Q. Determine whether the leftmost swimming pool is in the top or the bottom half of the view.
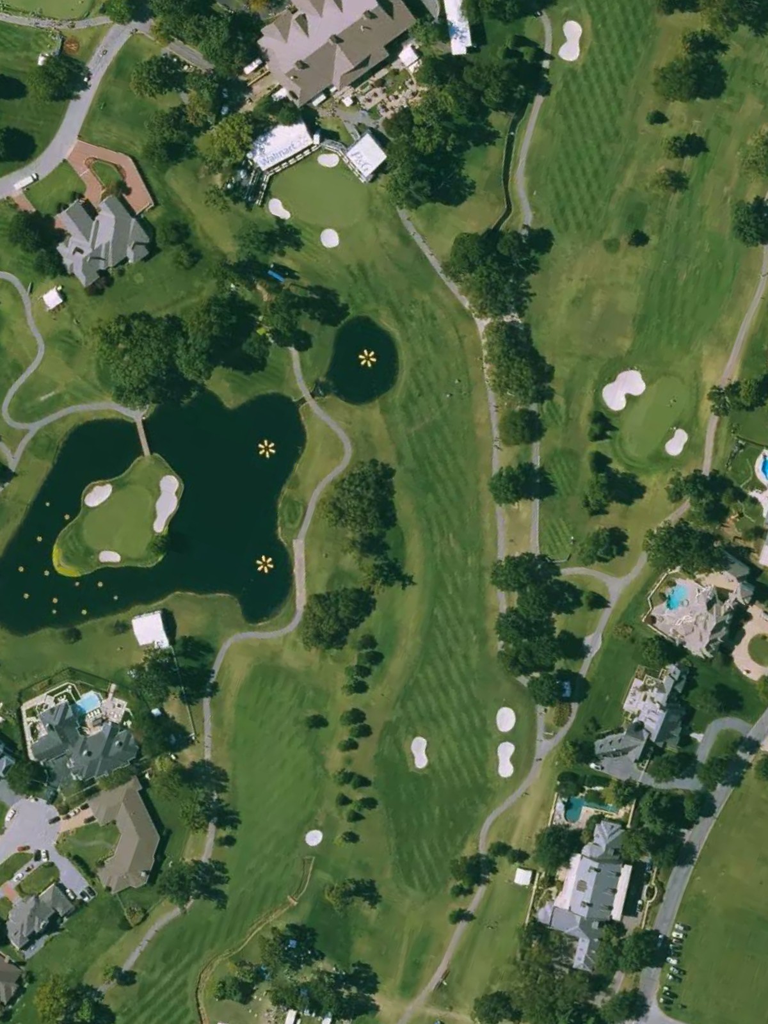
bottom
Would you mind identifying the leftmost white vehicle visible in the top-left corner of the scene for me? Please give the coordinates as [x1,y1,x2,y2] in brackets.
[15,174,38,189]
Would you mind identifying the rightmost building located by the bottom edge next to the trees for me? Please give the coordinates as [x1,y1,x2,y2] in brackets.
[540,820,633,974]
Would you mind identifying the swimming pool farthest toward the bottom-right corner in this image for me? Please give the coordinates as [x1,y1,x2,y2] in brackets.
[567,797,608,822]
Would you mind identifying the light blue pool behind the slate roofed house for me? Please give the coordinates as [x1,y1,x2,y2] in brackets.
[72,690,101,723]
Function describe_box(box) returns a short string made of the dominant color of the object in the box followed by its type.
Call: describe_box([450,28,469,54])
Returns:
white tent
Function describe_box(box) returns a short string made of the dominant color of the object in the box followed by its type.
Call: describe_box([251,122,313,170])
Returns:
white tent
